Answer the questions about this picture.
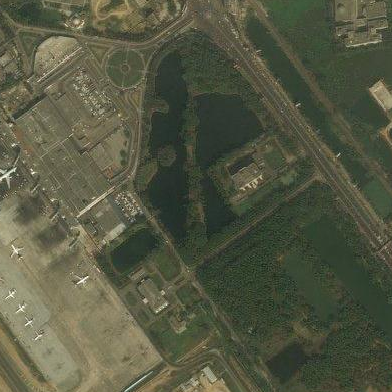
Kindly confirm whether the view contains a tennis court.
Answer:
No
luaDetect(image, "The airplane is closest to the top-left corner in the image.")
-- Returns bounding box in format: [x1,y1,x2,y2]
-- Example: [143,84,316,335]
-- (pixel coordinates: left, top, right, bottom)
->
[0,167,17,188]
